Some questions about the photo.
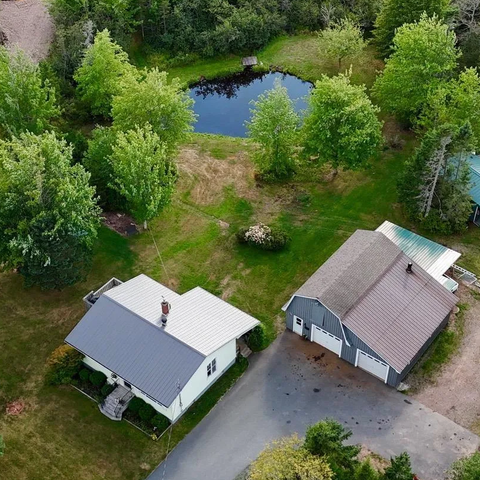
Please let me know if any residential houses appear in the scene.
Yes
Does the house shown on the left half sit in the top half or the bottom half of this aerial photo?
bottom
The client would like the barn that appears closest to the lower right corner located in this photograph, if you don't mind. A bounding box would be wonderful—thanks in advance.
[281,231,458,387]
